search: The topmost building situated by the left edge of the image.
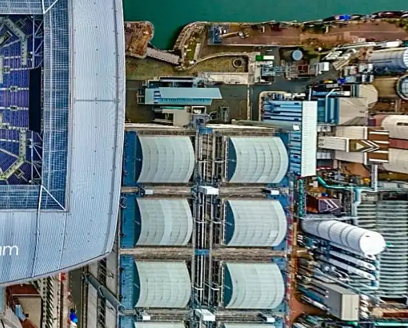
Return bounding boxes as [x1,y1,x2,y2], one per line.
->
[6,280,40,307]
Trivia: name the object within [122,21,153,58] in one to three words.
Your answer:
pier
